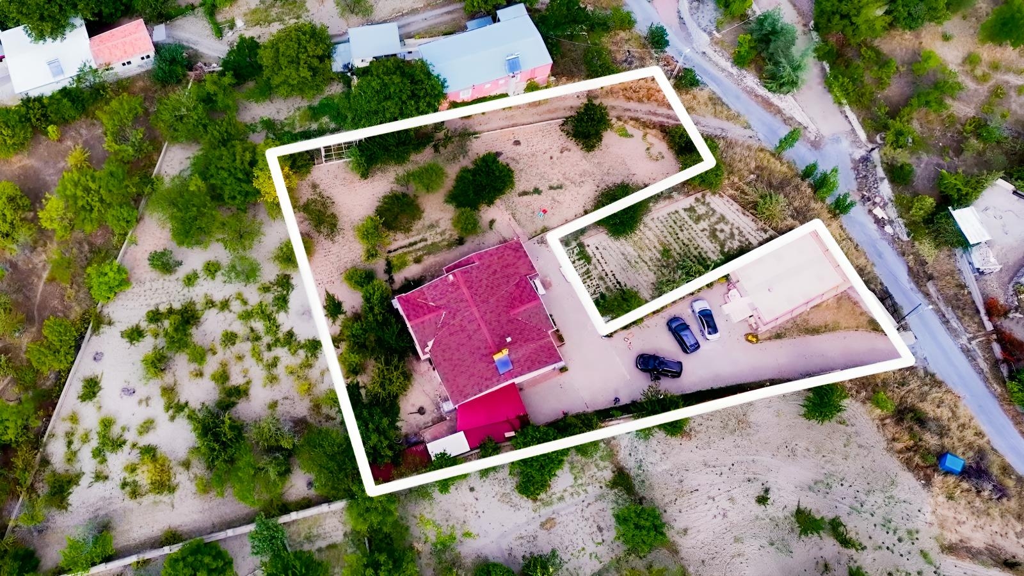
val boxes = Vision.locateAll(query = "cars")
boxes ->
[692,298,723,342]
[635,352,684,387]
[669,316,702,355]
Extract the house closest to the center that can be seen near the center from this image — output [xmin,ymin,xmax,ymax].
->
[395,239,565,414]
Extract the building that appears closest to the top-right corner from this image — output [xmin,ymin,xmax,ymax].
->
[728,228,851,330]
